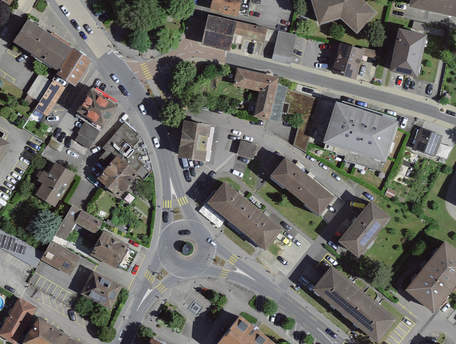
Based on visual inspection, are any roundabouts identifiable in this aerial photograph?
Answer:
Yes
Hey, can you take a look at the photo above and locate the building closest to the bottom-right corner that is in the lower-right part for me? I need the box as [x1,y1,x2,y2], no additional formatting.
[406,242,456,312]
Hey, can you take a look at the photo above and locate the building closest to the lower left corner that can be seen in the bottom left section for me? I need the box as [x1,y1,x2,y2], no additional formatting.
[0,299,36,343]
